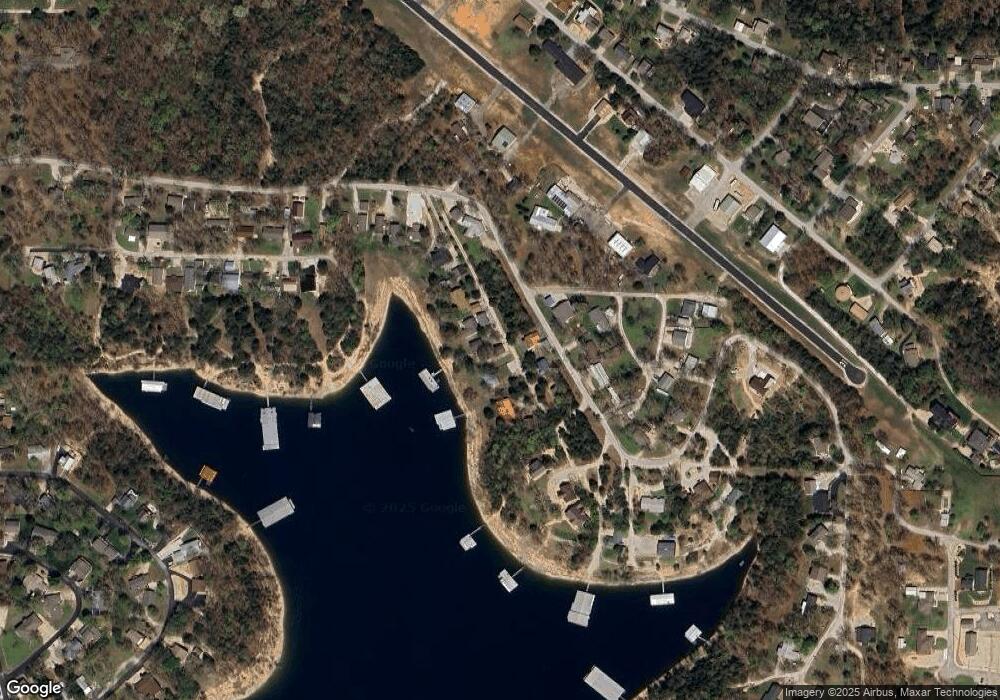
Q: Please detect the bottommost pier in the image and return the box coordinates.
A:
[583,664,626,700]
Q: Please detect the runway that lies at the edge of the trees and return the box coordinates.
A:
[401,0,864,383]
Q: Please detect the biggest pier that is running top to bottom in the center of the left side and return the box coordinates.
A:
[261,398,279,449]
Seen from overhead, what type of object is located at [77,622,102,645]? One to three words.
house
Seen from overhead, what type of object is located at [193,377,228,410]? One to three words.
pier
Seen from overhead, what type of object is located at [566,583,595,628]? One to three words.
pier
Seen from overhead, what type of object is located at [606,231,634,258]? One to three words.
hangar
